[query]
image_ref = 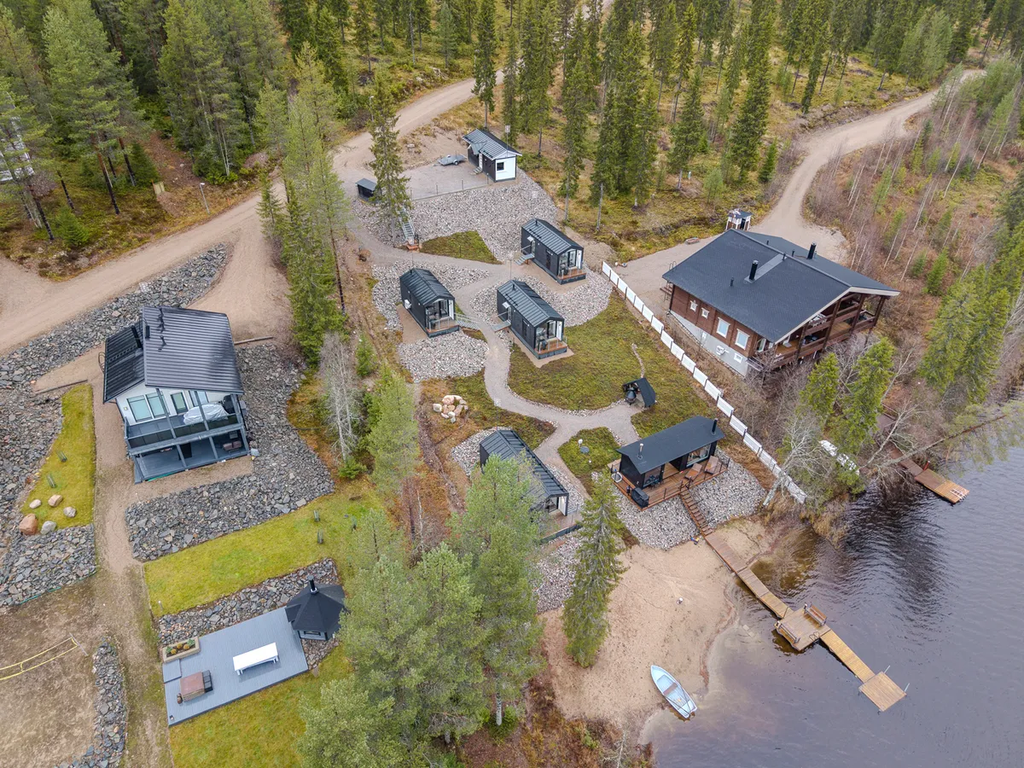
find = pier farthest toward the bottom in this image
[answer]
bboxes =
[705,531,912,715]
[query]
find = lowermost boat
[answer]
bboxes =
[652,663,701,717]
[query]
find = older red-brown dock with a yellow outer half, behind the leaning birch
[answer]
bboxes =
[895,453,970,508]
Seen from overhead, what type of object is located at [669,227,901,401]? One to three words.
house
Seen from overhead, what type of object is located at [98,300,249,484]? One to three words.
house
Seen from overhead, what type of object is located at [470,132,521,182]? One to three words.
building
